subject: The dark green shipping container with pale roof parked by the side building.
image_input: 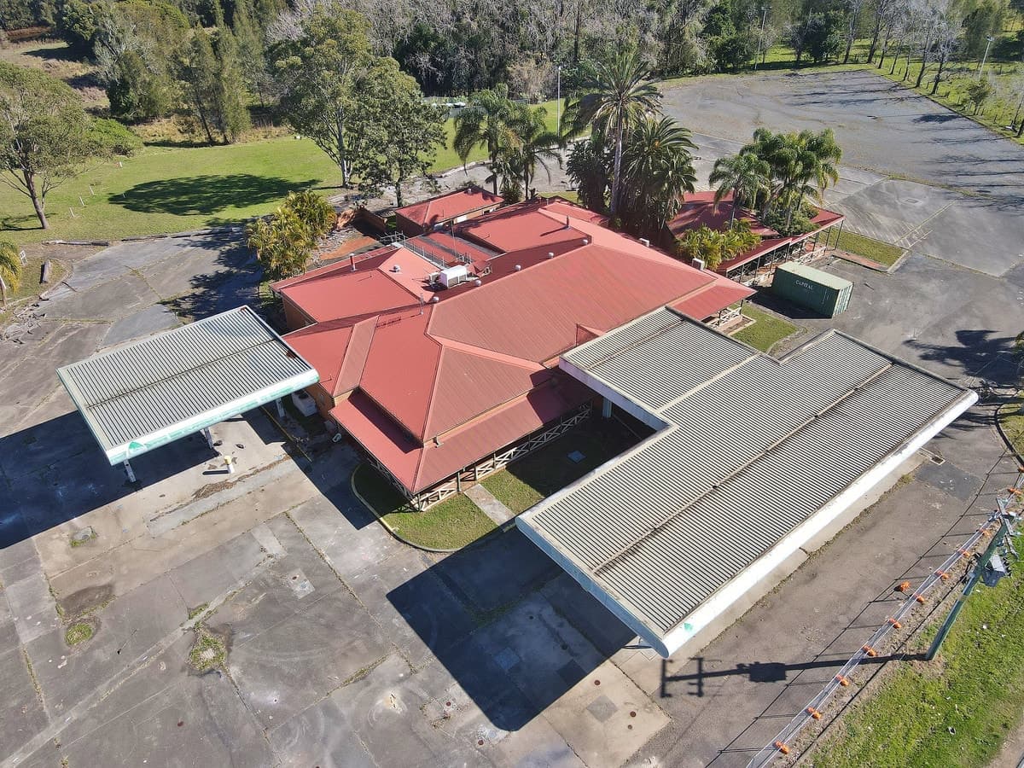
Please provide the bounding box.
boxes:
[765,257,854,318]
